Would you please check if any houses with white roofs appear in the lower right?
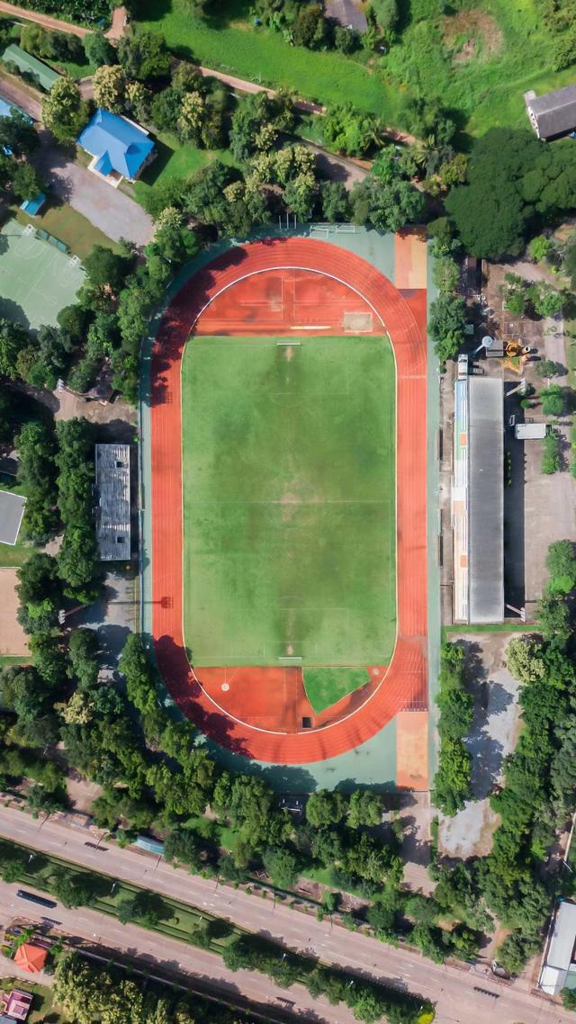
Yes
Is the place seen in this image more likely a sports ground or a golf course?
sports ground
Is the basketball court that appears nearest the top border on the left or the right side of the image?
left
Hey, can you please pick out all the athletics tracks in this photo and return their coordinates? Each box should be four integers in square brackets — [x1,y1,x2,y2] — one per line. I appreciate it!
[139,222,440,792]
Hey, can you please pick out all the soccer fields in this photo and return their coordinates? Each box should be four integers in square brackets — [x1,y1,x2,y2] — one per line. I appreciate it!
[183,336,395,667]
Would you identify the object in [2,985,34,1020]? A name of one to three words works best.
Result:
house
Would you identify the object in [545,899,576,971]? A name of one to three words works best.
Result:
house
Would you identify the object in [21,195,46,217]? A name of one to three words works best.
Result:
building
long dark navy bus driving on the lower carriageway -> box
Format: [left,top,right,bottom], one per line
[17,887,57,910]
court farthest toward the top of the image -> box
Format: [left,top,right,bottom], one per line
[0,218,90,342]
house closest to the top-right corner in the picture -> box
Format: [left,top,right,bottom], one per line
[527,88,576,138]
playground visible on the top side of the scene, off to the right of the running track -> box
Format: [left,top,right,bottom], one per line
[500,338,529,375]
